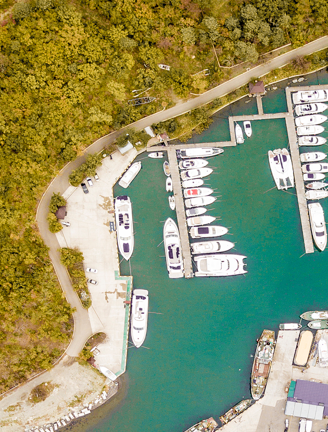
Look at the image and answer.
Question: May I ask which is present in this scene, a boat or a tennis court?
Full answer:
Visible in the photo is a boat.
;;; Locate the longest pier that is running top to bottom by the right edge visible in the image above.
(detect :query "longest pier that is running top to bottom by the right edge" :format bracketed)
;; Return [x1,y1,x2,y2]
[284,117,315,254]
